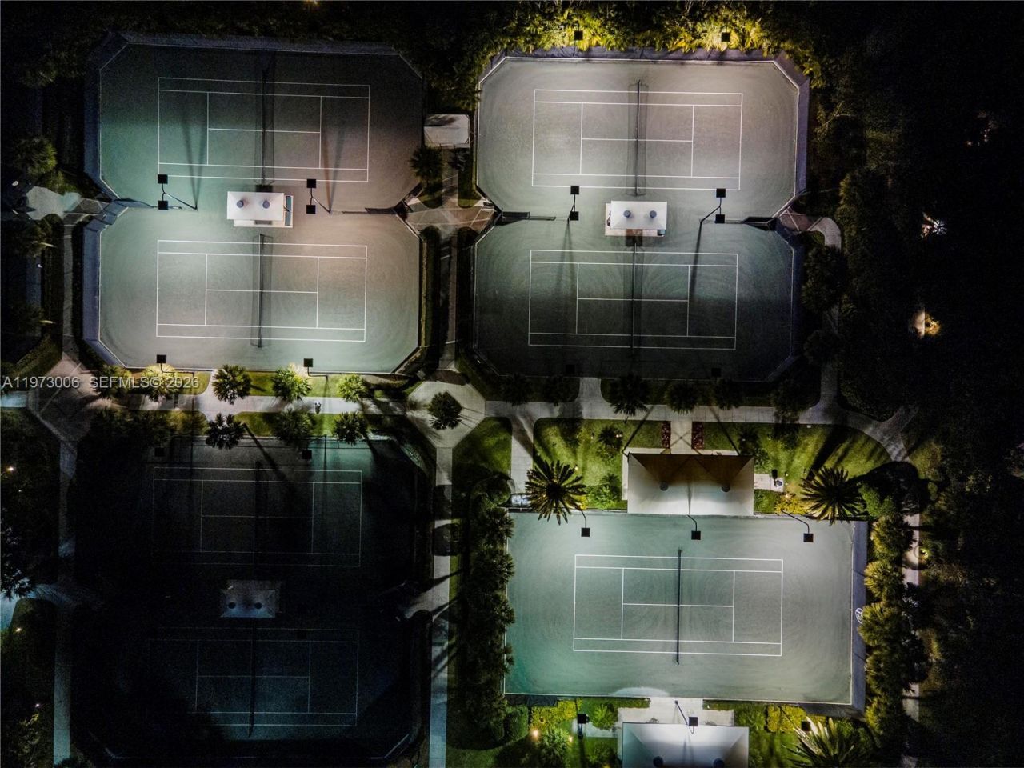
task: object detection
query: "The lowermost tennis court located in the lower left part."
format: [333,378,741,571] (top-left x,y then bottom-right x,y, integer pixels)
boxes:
[92,589,413,758]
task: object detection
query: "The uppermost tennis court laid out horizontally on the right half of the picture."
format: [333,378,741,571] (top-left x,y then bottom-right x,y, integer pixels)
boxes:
[476,57,799,217]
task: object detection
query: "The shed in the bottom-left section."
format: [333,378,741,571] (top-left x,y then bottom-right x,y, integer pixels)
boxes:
[221,576,294,616]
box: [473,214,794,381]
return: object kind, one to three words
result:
tennis court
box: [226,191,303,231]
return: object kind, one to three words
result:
shed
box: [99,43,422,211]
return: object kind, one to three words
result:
tennis court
